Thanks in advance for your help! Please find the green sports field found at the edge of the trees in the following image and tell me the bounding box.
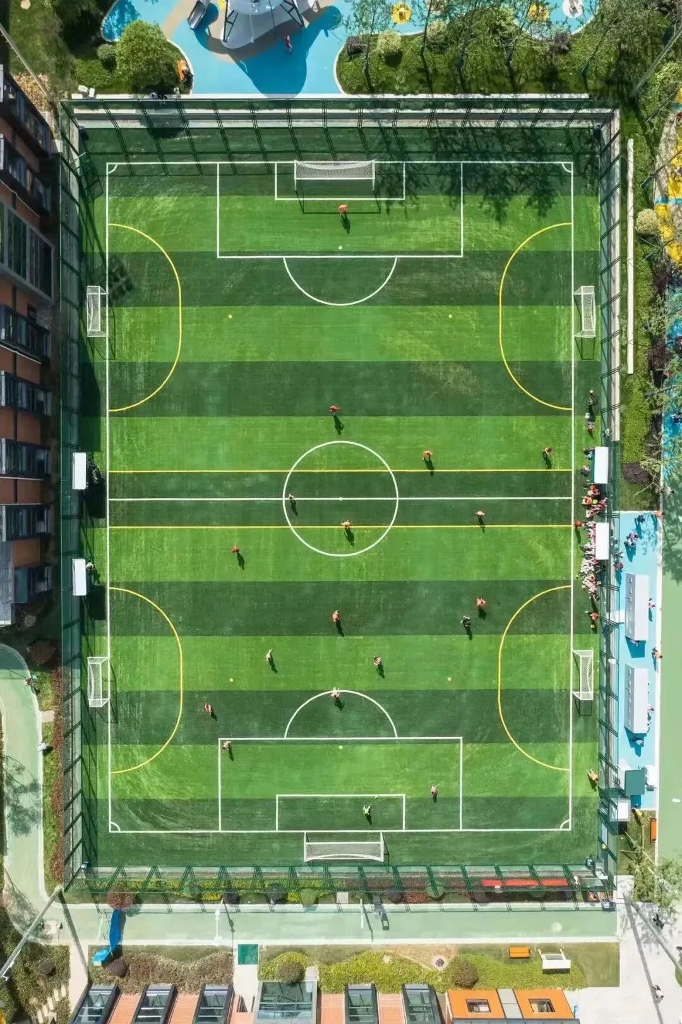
[82,129,600,867]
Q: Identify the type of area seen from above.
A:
sports ground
